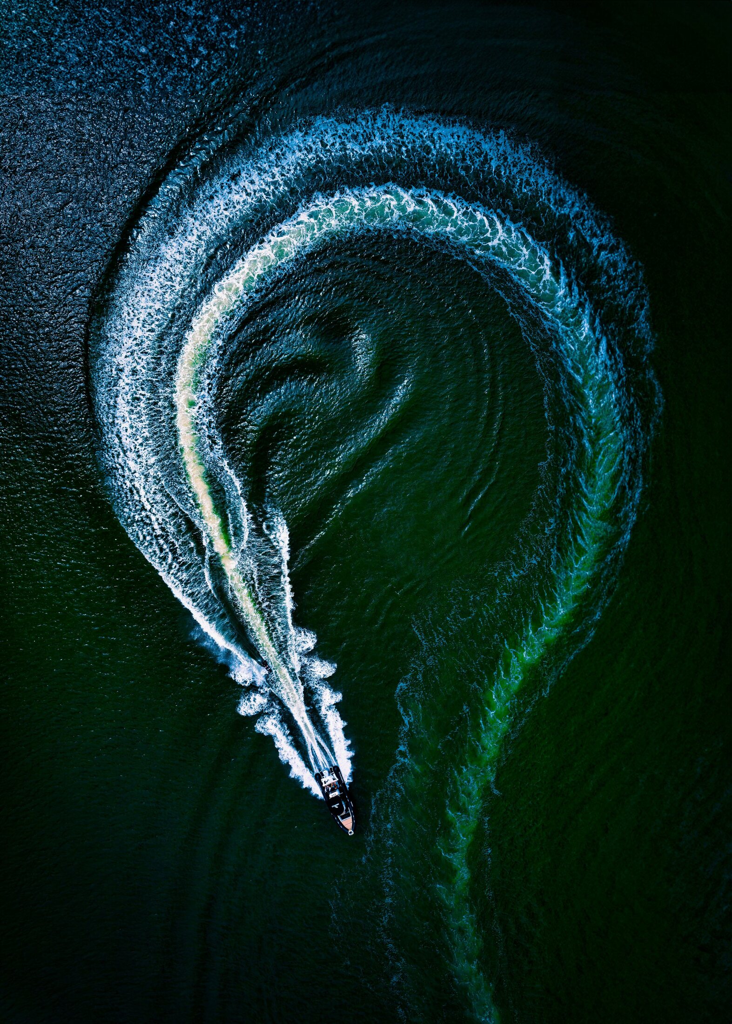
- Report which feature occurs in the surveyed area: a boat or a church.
boat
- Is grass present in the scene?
No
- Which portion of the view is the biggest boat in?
bottom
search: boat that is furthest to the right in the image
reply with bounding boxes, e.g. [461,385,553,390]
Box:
[315,766,355,837]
